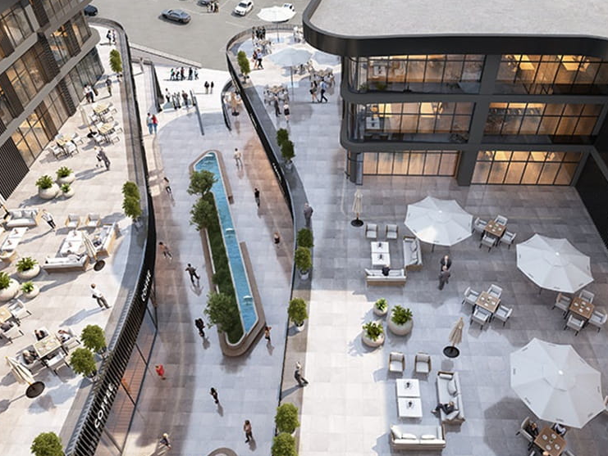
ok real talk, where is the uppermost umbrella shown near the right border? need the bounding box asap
[513,238,593,300]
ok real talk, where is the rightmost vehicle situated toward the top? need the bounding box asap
[278,0,301,13]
